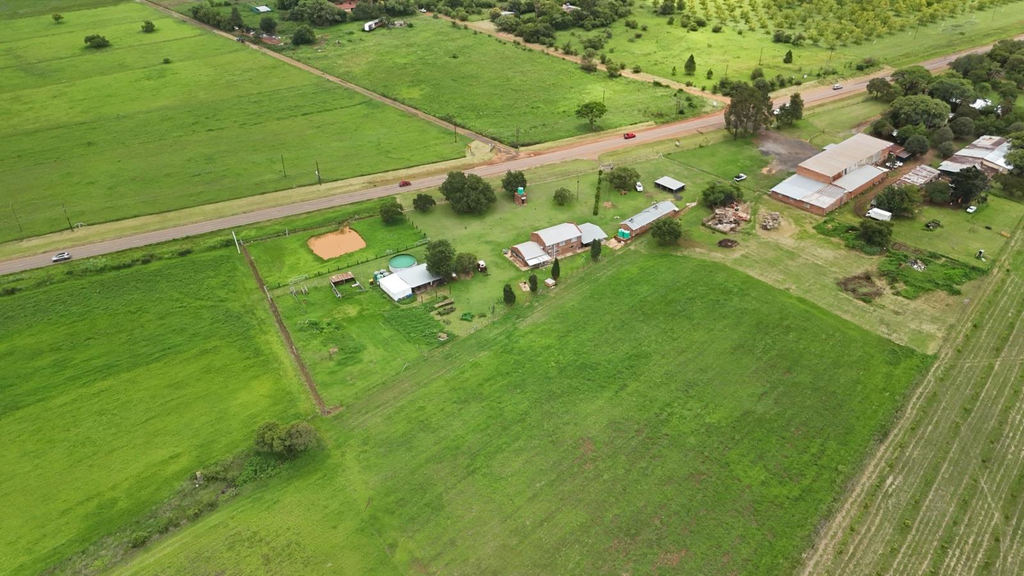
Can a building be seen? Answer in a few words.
Yes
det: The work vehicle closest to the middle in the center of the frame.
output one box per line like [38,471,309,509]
[478,257,492,274]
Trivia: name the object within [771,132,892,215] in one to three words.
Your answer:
building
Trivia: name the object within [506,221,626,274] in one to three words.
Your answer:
house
